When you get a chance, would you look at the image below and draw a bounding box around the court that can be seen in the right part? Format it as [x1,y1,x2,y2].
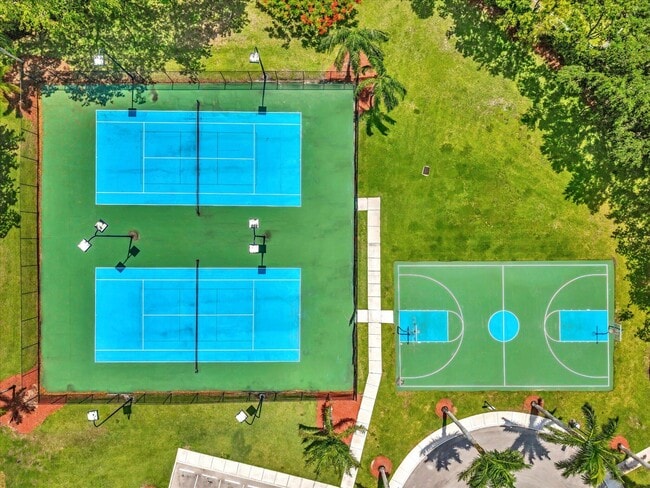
[394,260,614,392]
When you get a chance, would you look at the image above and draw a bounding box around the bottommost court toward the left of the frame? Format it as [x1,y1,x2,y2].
[95,268,300,362]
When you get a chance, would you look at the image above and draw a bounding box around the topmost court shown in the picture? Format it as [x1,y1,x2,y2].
[95,110,302,206]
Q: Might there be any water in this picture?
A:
No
